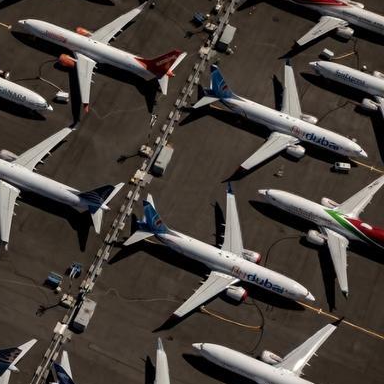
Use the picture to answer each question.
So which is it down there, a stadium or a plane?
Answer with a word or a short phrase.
plane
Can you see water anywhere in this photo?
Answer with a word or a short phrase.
No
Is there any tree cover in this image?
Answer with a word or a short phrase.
No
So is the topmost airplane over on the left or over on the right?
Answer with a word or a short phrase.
right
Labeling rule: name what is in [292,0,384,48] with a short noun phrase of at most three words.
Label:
airplane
